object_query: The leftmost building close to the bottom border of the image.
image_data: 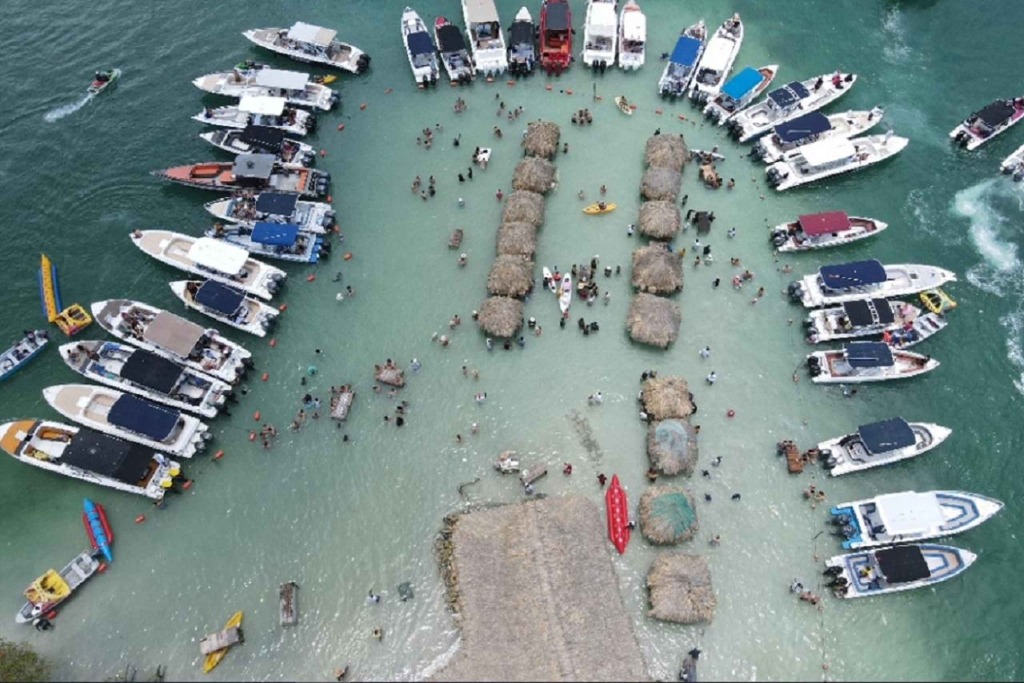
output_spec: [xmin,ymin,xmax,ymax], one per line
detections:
[453,493,653,683]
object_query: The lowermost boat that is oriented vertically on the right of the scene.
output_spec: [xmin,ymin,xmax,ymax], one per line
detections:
[605,474,630,552]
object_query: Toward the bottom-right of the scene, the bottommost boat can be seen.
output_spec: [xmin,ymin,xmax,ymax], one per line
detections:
[817,542,977,606]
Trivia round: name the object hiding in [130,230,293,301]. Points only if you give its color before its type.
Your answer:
white boat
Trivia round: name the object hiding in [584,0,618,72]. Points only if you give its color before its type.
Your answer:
white boat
